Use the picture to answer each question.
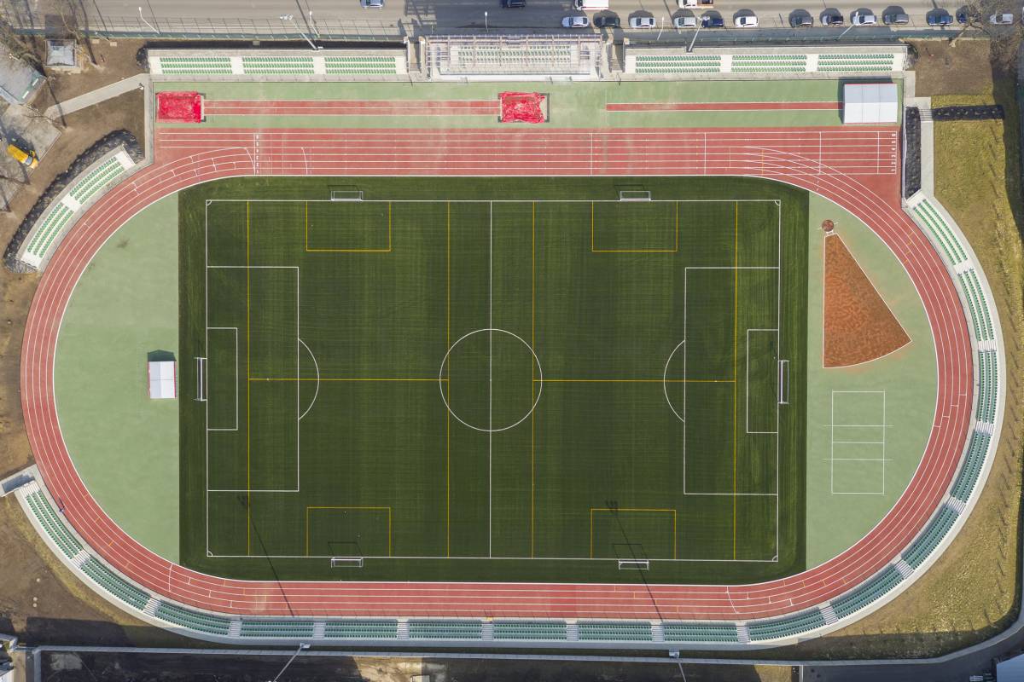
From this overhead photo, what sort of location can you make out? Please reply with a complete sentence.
The picture captures a sports ground.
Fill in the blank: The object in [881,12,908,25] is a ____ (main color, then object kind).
gray vehicle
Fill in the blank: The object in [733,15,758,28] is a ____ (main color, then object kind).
white vehicle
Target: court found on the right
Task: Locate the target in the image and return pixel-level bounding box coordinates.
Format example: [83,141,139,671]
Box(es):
[832,391,885,494]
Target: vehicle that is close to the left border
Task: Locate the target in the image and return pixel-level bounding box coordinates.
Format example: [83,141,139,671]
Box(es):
[4,141,42,171]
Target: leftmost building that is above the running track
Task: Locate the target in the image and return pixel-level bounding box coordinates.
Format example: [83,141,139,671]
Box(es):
[0,37,52,106]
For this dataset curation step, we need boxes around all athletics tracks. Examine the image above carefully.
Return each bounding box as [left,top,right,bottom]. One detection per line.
[20,127,972,619]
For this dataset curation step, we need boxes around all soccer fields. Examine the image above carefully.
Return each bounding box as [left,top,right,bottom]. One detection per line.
[178,176,808,585]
